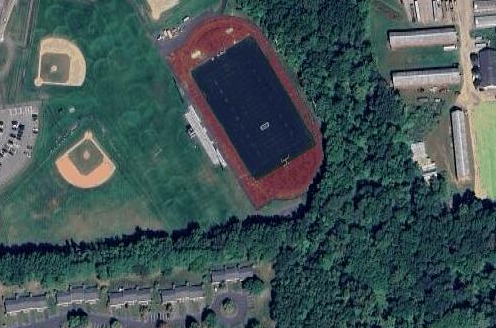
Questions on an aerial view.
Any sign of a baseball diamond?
Yes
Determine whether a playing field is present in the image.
Yes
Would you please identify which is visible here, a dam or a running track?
running track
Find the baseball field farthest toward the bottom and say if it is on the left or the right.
left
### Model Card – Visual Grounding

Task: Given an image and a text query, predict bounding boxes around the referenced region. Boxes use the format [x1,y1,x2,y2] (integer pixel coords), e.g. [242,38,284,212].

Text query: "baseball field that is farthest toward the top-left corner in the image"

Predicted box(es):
[34,37,86,87]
